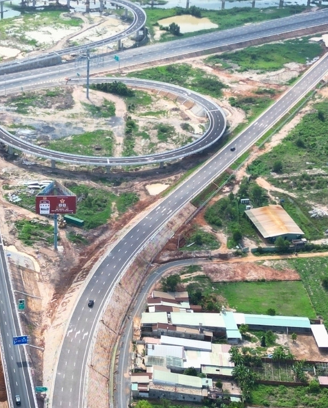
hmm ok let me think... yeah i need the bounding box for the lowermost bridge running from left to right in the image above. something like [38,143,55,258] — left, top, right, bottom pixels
[0,93,225,173]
